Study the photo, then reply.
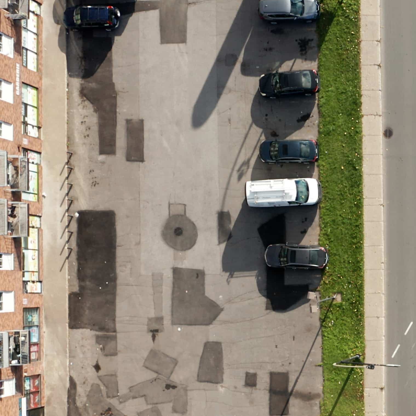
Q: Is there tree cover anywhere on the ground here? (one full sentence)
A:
No, tree cover can't be seen anywhere here.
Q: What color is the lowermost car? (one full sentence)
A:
The lowermost car looks black in the image.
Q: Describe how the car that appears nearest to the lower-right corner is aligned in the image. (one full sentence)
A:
What the image shows is the car that appears nearest to the lower-right corner lying from left to right.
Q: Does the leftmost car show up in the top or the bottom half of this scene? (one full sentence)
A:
The top half of the photo is where the leftmost car is.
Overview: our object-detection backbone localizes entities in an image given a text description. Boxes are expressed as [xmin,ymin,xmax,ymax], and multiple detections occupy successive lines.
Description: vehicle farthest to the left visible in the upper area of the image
[62,2,119,31]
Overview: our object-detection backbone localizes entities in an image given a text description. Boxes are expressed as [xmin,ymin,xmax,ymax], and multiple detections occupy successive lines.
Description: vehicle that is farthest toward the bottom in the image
[265,243,330,269]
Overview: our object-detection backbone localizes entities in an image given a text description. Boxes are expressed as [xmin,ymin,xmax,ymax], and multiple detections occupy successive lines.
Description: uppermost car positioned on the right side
[259,0,320,26]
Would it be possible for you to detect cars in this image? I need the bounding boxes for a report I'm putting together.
[259,73,320,100]
[265,243,330,269]
[260,139,320,164]
[62,2,119,31]
[259,0,320,26]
